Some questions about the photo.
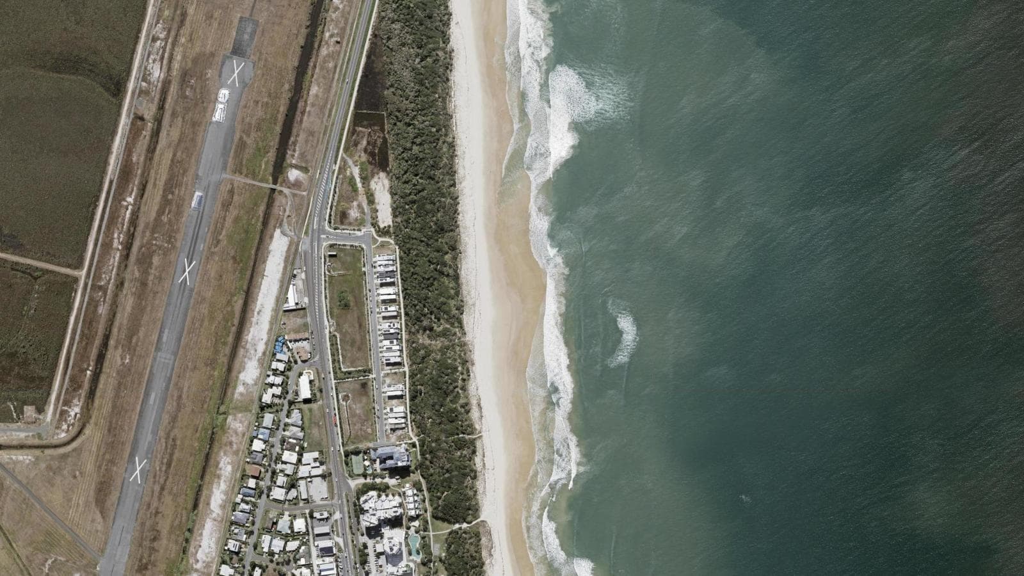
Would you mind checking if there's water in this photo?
Yes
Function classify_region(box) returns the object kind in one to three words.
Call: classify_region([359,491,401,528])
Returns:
building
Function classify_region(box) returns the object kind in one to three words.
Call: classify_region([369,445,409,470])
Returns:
building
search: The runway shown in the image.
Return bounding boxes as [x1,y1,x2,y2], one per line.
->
[101,54,254,576]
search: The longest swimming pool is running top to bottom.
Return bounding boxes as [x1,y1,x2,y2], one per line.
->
[409,533,422,560]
